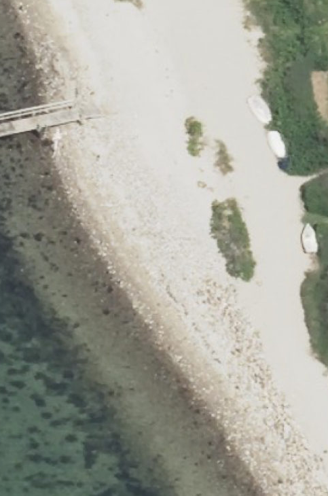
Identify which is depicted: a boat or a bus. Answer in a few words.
boat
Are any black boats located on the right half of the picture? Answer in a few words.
No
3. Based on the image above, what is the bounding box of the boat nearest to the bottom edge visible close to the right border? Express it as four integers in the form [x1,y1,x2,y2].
[301,220,317,254]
